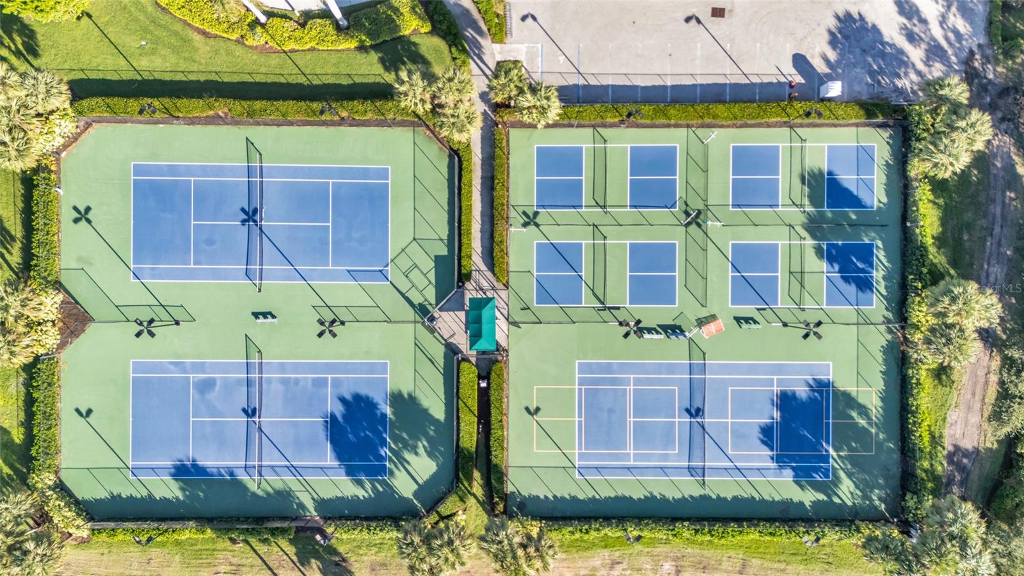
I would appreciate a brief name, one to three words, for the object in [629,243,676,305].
sports court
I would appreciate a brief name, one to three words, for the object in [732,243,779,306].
sports court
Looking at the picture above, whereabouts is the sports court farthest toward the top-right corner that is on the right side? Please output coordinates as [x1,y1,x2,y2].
[827,146,875,208]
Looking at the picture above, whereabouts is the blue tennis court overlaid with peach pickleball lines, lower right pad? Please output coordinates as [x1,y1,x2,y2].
[577,361,832,479]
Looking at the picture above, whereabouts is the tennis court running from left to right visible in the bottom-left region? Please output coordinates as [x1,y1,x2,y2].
[131,360,388,478]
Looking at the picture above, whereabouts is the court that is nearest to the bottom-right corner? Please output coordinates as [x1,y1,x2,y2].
[730,388,874,454]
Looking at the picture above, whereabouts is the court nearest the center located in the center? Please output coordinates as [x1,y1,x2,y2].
[536,243,583,305]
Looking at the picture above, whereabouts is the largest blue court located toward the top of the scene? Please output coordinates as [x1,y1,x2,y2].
[131,163,391,283]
